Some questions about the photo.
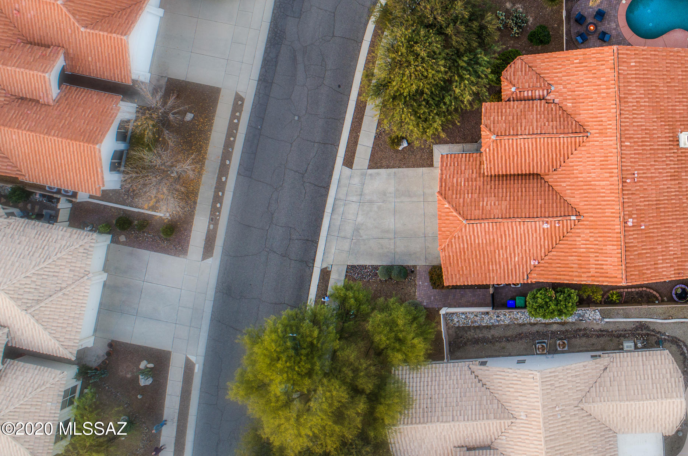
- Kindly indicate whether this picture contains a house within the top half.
Yes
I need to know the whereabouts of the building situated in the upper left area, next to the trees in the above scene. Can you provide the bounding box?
[0,0,174,196]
